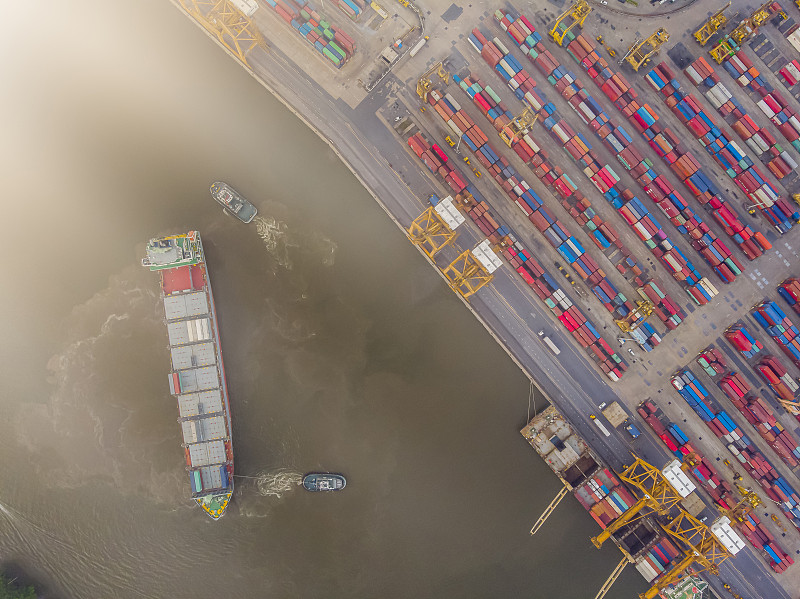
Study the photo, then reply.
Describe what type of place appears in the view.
port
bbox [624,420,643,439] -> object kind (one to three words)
vehicle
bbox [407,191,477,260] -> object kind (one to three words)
container crane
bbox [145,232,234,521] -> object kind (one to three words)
ship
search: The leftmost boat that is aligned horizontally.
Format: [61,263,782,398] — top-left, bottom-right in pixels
[302,472,348,492]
